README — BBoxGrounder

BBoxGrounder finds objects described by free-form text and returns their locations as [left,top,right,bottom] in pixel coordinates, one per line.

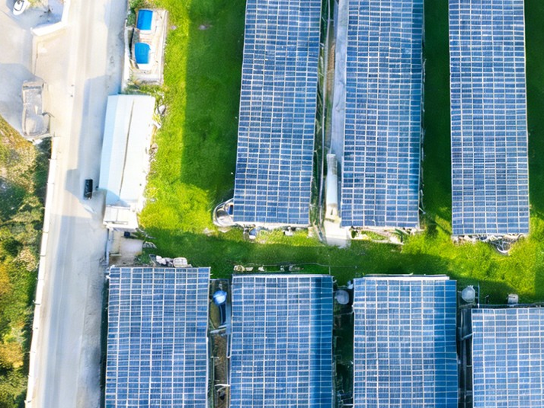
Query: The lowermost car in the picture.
[81,178,94,198]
